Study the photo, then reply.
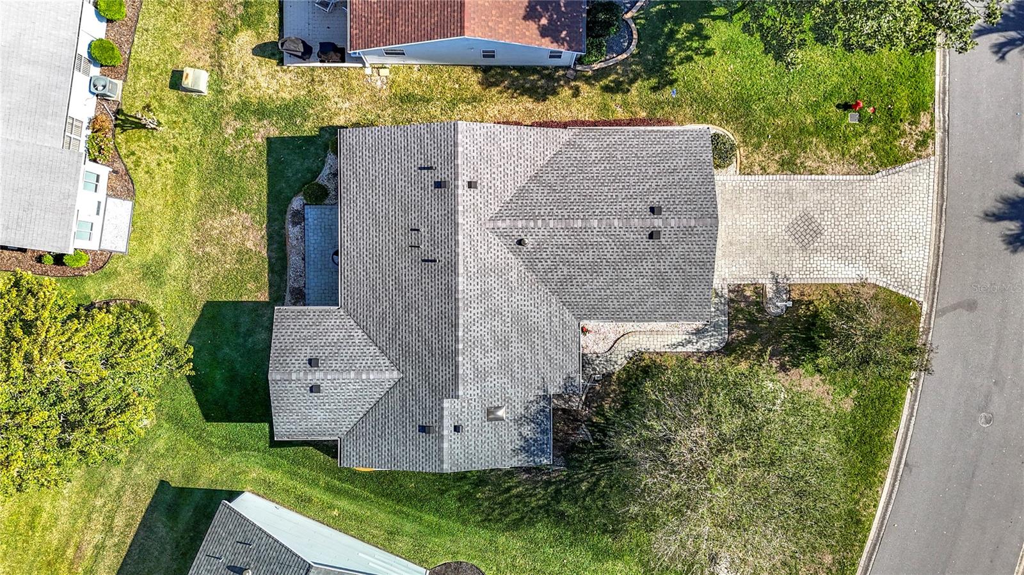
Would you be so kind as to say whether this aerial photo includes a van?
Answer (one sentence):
No, this view has no van in it.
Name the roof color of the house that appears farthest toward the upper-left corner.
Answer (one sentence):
The roof over the house that appears farthest toward the upper-left corner appears white.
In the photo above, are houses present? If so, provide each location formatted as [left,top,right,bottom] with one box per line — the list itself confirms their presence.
[0,0,113,256]
[346,0,588,74]
[192,492,430,575]
[267,120,719,476]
